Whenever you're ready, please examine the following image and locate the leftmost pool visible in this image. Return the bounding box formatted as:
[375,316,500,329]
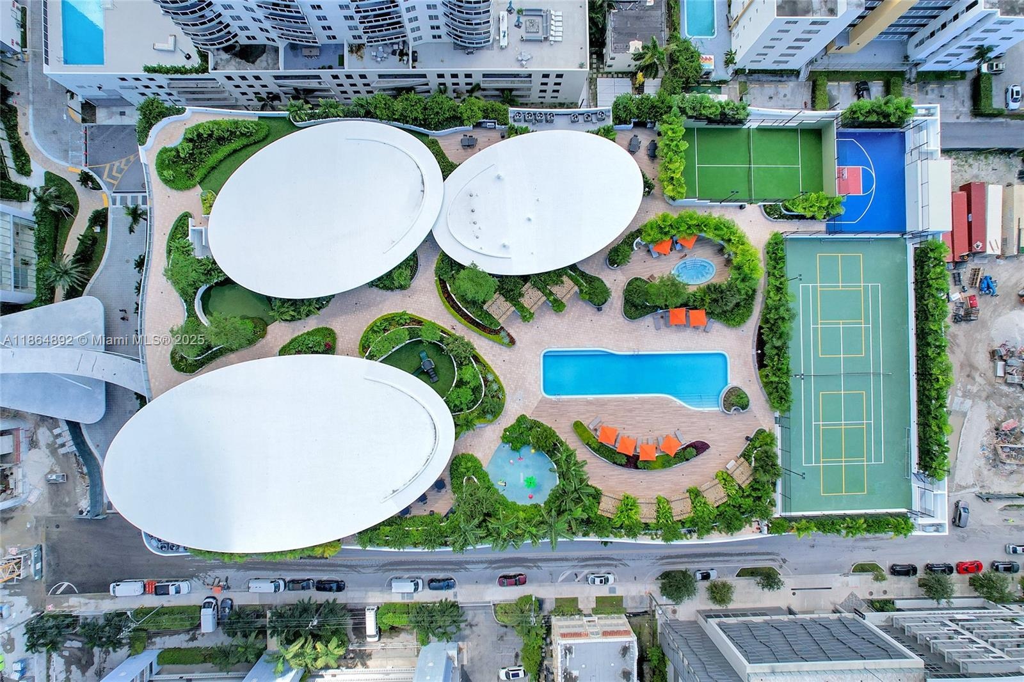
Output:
[60,0,106,67]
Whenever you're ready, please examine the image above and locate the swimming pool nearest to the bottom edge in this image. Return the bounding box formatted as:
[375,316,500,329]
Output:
[541,348,730,411]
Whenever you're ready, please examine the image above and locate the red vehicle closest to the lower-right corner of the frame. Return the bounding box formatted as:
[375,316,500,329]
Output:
[954,559,983,575]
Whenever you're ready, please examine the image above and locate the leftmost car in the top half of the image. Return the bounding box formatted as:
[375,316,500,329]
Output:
[851,76,870,102]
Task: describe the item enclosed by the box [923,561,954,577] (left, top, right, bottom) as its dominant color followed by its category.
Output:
black car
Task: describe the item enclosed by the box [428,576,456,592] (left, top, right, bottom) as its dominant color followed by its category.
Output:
blue car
